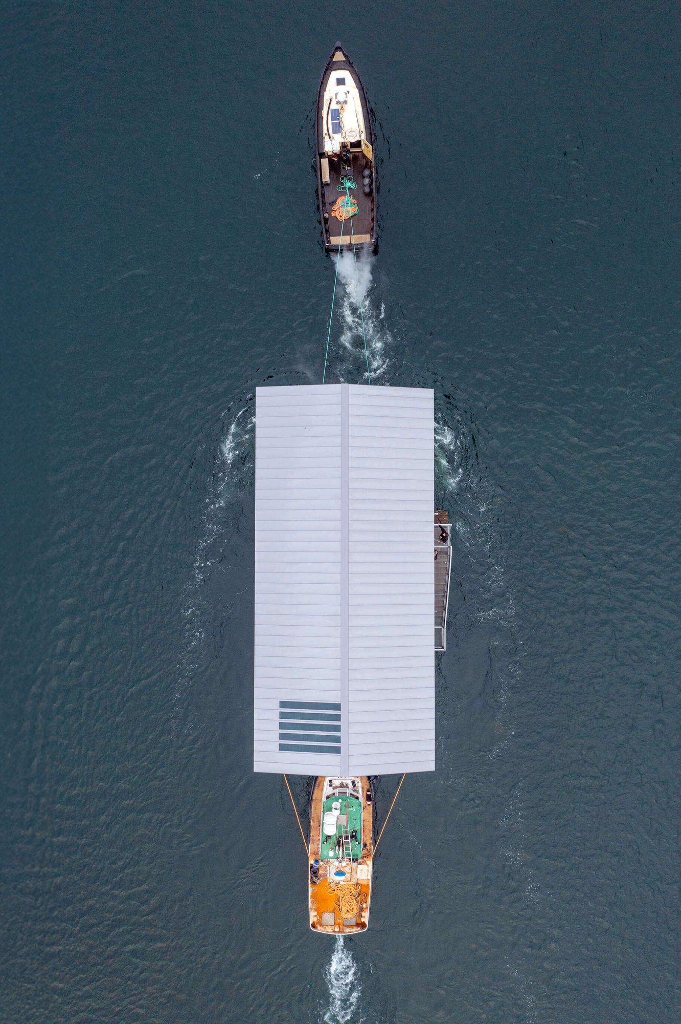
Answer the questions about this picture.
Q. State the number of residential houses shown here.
1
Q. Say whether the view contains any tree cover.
No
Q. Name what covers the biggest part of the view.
water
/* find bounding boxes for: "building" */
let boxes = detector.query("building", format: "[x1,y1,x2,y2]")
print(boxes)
[253,384,453,778]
